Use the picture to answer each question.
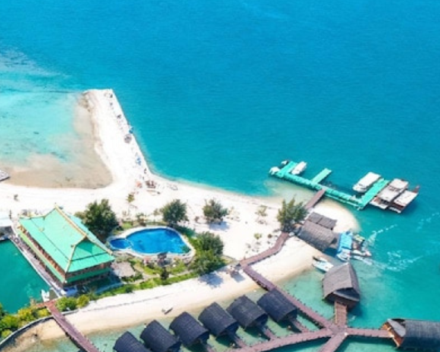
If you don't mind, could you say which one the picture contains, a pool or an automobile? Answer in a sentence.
The one in the frame is a pool.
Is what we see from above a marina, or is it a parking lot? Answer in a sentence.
What you see here is a marina.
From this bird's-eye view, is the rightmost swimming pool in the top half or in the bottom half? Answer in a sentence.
The rightmost swimming pool is in the bottom half of the image.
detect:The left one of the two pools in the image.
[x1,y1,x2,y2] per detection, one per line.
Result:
[108,236,133,251]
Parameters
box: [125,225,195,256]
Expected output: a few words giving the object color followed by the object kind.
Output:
blue swimming pool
